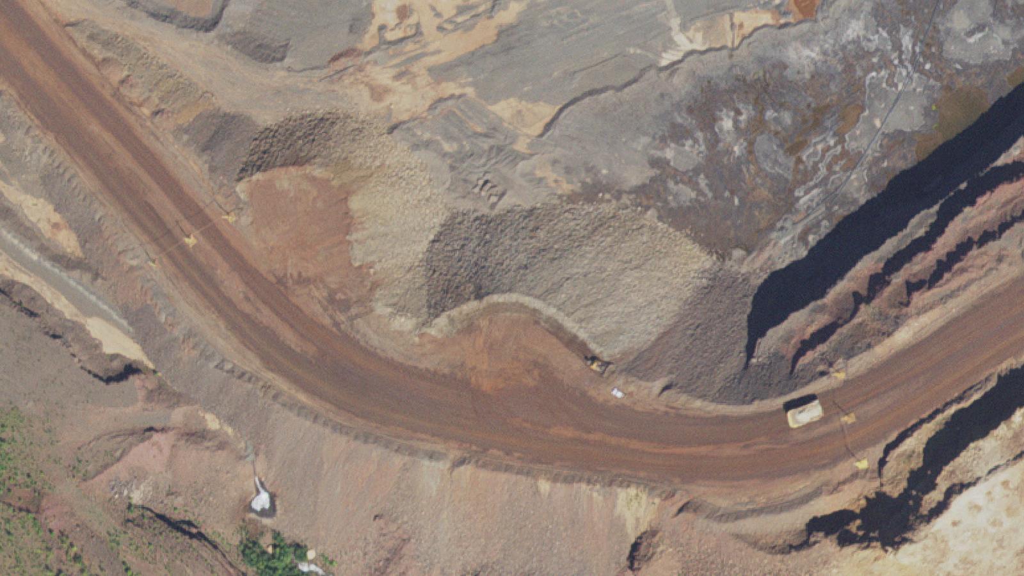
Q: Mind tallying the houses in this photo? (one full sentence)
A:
Not a single house can be seen.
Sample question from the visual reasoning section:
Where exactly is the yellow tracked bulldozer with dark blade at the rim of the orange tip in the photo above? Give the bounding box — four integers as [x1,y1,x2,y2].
[587,357,609,377]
